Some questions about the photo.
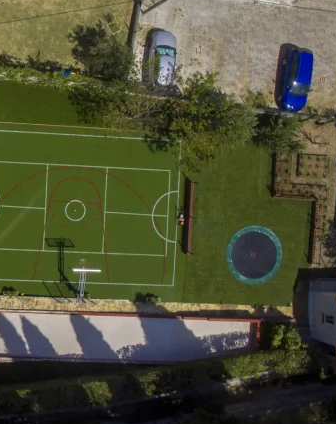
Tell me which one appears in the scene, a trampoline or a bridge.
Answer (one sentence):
Of the two, only a trampoline appears.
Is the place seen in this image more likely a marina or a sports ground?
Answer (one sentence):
The picture captures a sports ground.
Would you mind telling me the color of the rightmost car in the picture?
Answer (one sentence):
The color of the rightmost car is blue.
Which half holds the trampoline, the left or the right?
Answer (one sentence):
You can find the trampoline on the right side of the picture.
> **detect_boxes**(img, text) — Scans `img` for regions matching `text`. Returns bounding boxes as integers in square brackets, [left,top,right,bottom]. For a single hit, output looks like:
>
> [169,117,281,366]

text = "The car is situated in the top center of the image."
[146,26,183,88]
